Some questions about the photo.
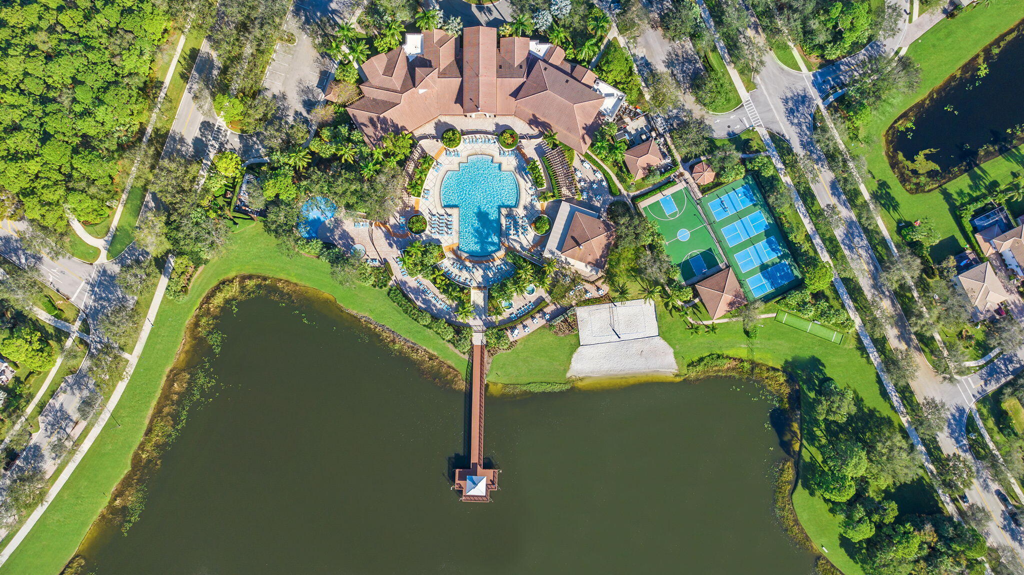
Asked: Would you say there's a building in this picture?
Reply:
Yes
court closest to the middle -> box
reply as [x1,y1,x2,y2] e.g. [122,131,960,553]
[576,299,659,346]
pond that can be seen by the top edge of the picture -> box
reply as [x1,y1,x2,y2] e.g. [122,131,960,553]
[886,23,1024,193]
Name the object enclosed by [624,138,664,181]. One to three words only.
building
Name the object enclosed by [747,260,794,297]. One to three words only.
sports court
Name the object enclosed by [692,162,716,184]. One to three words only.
gazebo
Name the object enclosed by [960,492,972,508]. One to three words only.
vehicle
